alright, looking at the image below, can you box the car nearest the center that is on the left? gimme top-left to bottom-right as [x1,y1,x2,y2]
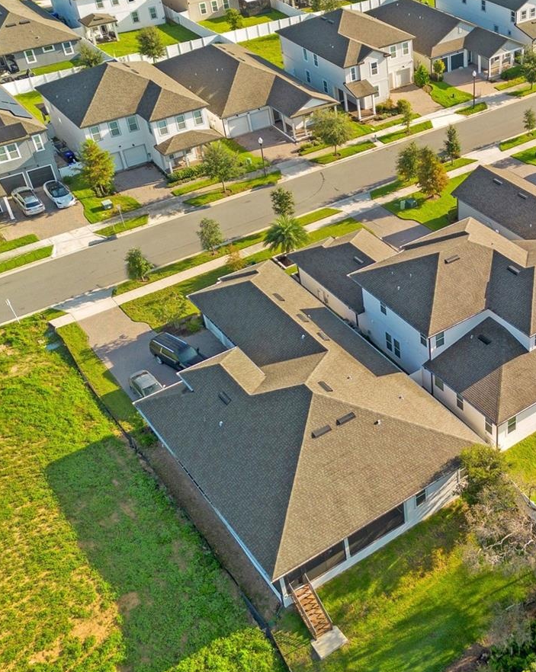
[144,322,201,381]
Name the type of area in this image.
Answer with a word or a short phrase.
residential area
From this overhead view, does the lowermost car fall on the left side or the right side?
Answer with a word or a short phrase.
left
